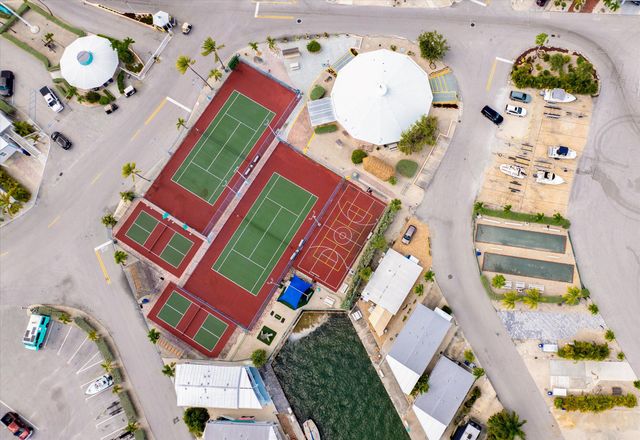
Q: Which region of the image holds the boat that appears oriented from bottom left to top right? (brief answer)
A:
bottom left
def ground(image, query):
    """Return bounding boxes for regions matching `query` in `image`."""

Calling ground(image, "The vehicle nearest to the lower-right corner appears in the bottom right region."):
[453,415,481,440]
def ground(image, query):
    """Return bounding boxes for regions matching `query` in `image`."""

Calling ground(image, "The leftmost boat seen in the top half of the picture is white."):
[499,165,531,180]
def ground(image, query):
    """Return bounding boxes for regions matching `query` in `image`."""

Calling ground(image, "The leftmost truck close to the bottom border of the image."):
[4,412,32,439]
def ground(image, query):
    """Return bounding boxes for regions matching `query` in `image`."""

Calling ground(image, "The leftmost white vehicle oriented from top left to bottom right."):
[41,88,62,111]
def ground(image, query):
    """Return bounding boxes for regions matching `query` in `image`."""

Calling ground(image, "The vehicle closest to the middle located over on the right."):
[400,222,418,246]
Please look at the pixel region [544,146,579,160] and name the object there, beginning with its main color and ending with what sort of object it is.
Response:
white boat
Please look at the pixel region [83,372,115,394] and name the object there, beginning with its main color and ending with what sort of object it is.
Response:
white boat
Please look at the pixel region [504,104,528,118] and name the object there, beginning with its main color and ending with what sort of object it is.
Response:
white vehicle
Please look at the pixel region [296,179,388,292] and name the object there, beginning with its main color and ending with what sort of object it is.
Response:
red basketball court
